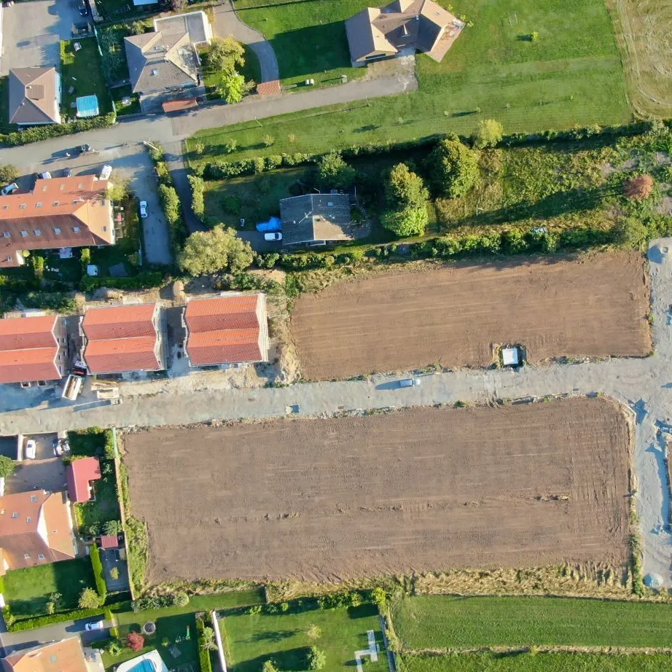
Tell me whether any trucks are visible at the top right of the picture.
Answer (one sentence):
No, no truck appears at the top right of the picture.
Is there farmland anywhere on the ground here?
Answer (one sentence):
Yes, some farmland is visible.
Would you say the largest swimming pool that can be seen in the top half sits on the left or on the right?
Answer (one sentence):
You can find the largest swimming pool that can be seen in the top half on the left side of the picture.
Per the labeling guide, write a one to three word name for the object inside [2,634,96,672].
house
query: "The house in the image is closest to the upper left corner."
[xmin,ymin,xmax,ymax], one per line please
[10,68,62,126]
